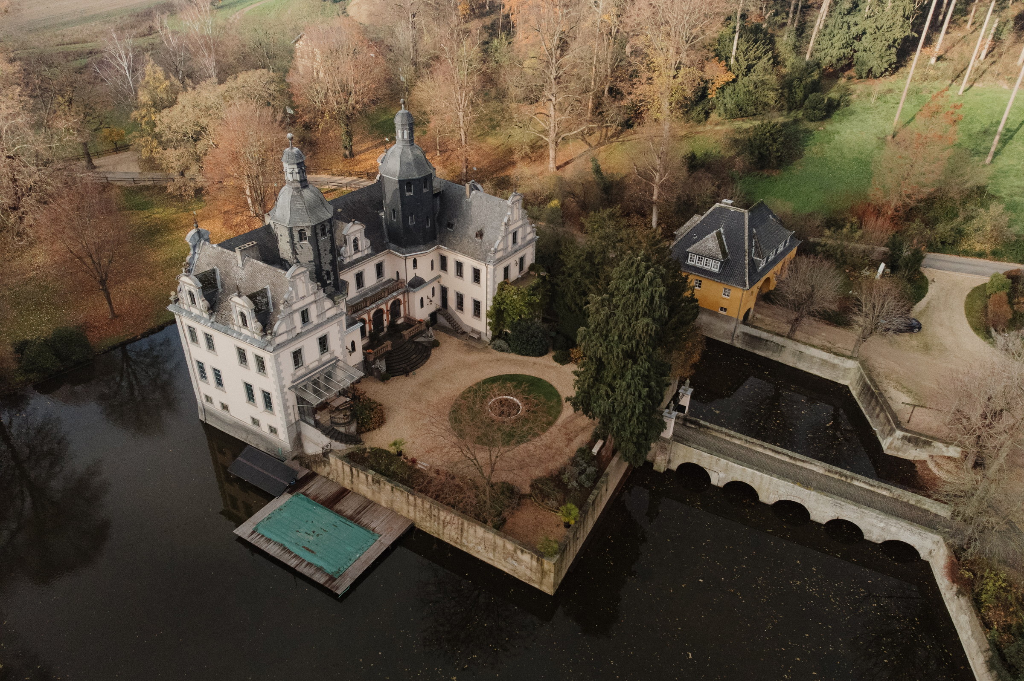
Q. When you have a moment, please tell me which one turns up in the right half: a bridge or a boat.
bridge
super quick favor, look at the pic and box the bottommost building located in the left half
[161,81,548,469]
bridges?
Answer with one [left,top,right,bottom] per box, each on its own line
[671,416,978,568]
